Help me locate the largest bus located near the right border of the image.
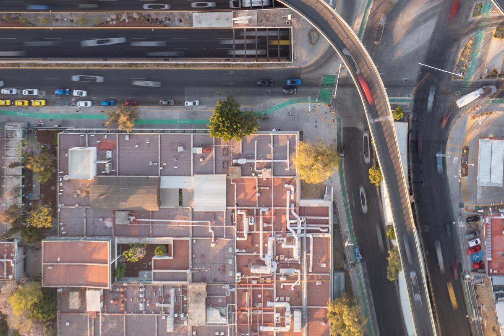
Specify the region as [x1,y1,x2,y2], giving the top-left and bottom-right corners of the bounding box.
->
[453,86,487,111]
